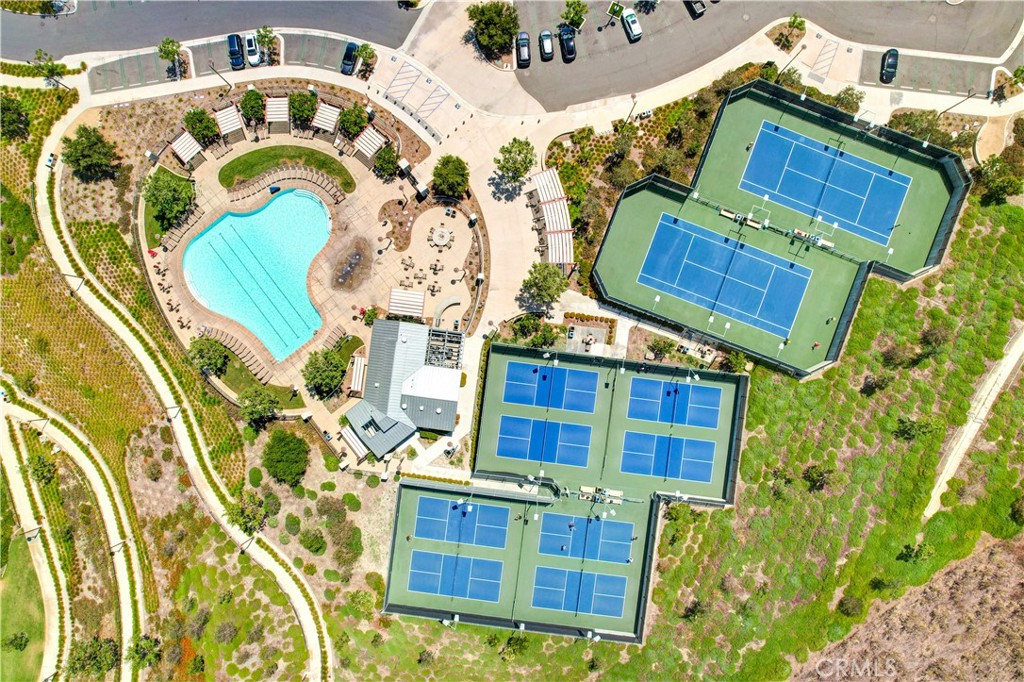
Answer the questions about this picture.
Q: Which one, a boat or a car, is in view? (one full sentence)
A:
This aerial view contains a car.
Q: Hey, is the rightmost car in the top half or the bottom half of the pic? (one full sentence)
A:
The top half of the photo is where the rightmost car is.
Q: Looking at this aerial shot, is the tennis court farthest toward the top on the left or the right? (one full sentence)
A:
The tennis court farthest toward the top appears in the right half of the scene.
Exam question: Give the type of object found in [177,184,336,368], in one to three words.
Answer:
swimming pool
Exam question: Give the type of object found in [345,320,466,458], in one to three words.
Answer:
building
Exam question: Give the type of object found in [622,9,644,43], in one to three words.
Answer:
car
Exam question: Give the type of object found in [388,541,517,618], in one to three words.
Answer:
sports court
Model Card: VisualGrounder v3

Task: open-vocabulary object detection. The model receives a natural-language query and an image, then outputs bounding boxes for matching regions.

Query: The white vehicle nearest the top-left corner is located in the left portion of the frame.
[242,34,261,67]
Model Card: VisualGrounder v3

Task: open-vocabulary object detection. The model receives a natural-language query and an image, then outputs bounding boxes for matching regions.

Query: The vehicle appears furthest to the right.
[878,48,898,83]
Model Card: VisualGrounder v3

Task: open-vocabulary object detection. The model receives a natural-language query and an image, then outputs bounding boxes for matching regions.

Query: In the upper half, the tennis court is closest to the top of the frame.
[688,88,957,273]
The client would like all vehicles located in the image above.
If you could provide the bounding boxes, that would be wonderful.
[340,42,358,75]
[242,34,261,67]
[539,30,553,61]
[559,28,576,64]
[878,48,898,83]
[622,9,644,43]
[515,33,531,67]
[226,34,248,71]
[686,0,710,19]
